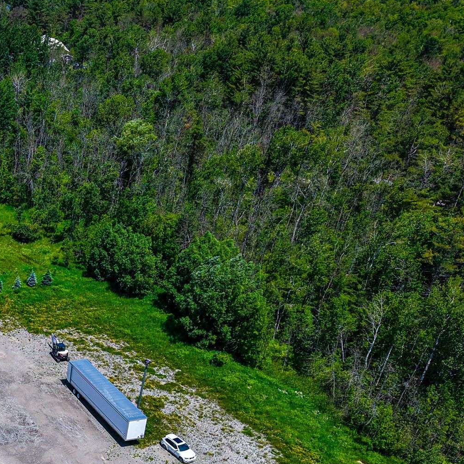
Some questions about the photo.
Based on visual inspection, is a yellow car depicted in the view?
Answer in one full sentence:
No, there is no yellow car in the image.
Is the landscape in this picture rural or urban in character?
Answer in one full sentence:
It looks rural.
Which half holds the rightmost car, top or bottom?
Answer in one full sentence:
The rightmost car is in the bottom half of the image.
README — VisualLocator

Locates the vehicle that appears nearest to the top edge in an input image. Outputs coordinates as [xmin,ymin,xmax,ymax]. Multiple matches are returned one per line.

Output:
[49,336,71,362]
